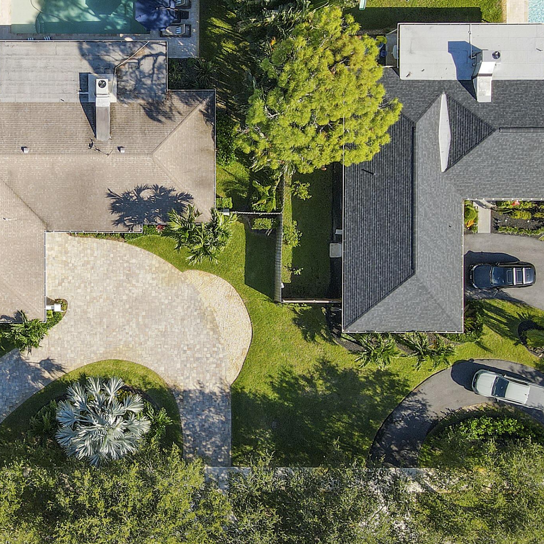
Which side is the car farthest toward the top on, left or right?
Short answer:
right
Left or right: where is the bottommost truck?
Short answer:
right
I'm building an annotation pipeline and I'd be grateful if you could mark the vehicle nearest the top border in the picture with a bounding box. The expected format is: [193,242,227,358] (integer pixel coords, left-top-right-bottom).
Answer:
[466,259,538,293]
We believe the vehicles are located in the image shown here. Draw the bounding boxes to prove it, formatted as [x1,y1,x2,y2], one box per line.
[466,369,544,412]
[466,259,538,293]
